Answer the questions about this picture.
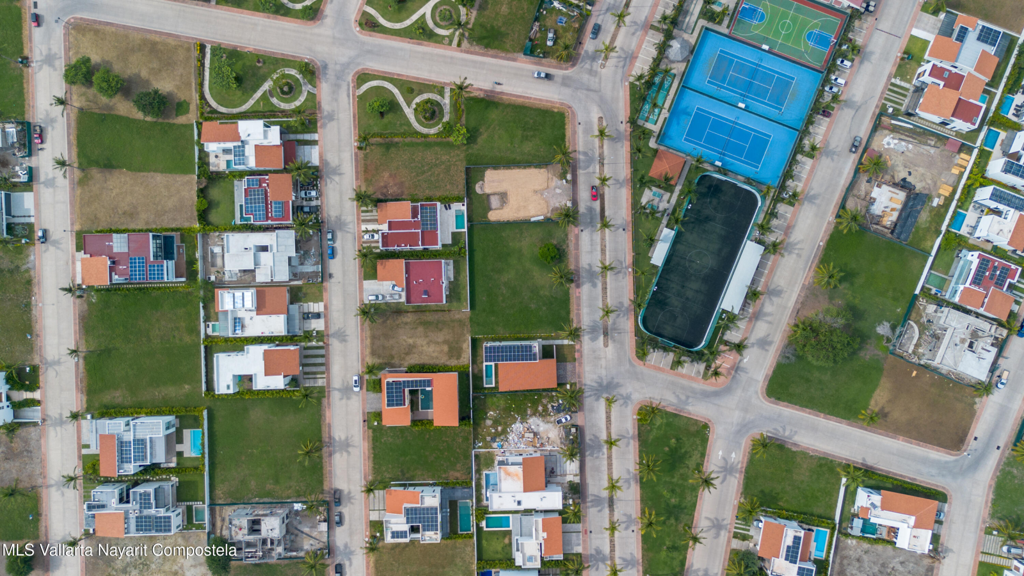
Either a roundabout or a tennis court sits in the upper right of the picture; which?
tennis court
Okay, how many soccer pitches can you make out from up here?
1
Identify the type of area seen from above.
residential area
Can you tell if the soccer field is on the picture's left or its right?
right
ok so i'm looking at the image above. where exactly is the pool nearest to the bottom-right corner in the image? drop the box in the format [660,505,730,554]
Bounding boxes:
[861,517,878,536]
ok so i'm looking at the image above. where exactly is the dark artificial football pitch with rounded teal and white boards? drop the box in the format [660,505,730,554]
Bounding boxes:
[640,168,769,352]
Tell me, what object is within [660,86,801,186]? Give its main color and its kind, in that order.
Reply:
blue tennis court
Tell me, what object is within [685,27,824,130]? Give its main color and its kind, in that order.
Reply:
blue tennis court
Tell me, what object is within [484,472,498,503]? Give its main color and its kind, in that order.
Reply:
blue swimming pool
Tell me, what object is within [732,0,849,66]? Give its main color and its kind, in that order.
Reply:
green basketball court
